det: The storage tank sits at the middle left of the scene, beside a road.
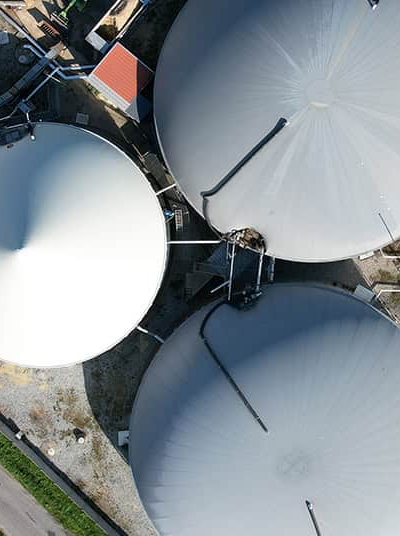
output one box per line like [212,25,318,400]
[0,122,173,367]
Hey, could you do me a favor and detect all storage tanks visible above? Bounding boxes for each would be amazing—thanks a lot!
[0,122,173,367]
[155,0,400,261]
[130,281,400,536]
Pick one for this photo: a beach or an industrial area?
industrial area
